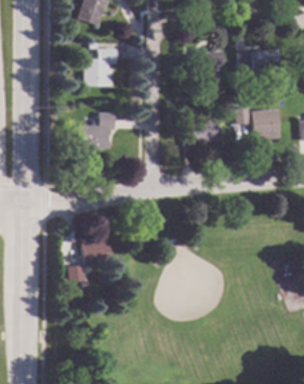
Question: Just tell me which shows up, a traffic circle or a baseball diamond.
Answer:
baseball diamond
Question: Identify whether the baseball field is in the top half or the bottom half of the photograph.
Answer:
bottom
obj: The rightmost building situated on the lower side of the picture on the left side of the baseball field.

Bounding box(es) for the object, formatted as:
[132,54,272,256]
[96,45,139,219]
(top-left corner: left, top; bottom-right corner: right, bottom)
[82,241,113,260]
